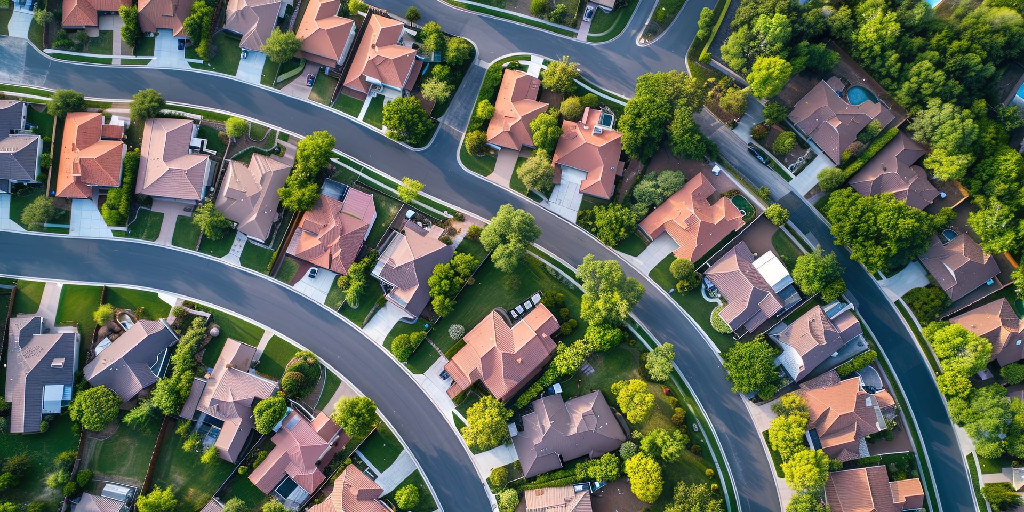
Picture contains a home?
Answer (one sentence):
Yes, the image includes a home.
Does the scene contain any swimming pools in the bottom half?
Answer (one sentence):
Yes, you'll find a swimming pool in the bottom half.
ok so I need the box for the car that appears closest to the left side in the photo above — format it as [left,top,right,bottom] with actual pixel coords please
[176,38,188,55]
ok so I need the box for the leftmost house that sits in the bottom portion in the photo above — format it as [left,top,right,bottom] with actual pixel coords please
[7,316,81,435]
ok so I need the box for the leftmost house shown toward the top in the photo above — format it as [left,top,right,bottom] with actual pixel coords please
[0,98,46,194]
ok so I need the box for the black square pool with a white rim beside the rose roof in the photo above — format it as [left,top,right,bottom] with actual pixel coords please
[274,476,300,500]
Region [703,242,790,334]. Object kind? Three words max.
house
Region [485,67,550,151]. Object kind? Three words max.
house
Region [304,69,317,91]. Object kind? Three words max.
vehicle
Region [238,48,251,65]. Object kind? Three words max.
vehicle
